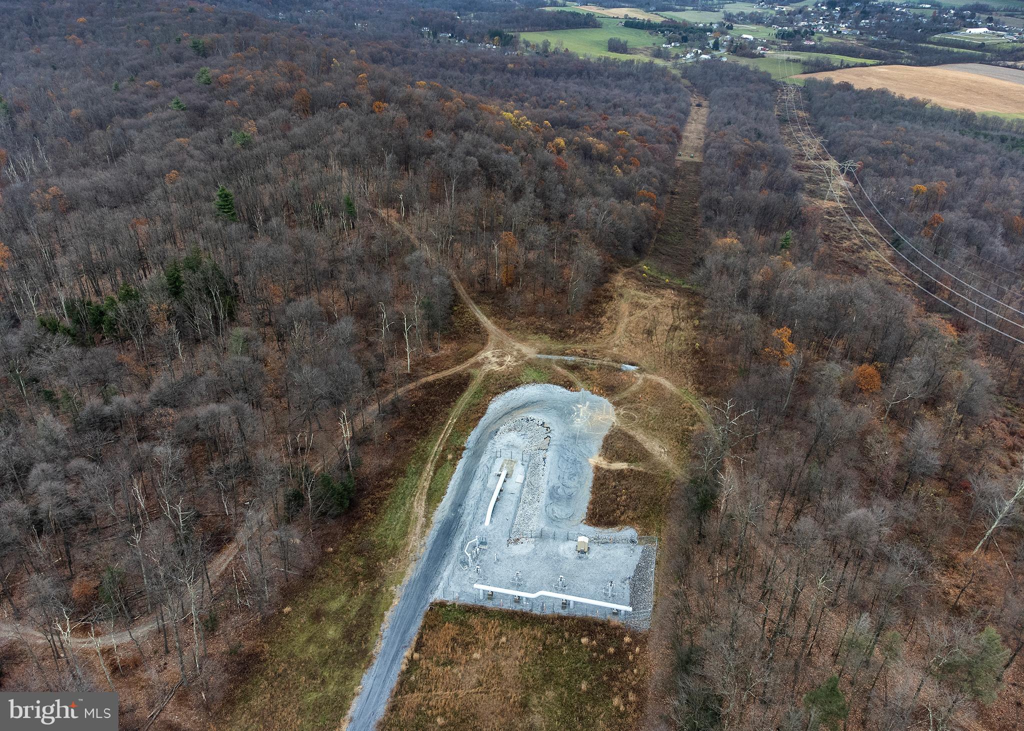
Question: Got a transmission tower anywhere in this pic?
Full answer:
Yes, the frame does contain a transmission tower.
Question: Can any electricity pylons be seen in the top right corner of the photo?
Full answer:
Yes, there is an electricity pylon in the top right corner of the photo.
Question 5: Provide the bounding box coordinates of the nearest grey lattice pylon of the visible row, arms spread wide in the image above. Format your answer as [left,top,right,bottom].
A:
[819,159,862,206]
